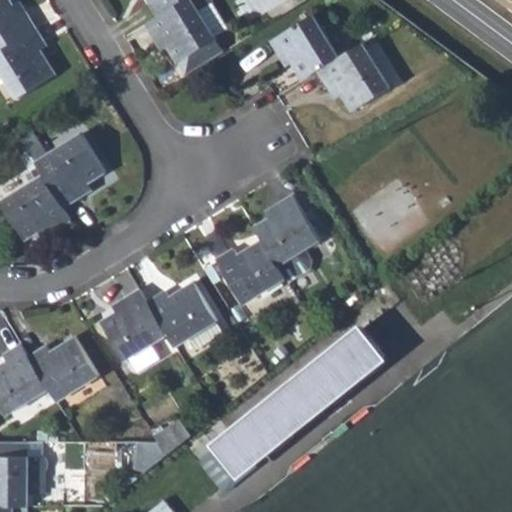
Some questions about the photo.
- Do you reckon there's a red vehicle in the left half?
Yes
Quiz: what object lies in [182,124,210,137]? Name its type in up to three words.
vehicle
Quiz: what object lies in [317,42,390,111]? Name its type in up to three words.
house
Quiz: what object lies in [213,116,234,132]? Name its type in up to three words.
car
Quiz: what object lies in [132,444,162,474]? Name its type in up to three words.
shed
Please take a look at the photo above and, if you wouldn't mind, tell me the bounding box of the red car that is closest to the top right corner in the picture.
[298,79,318,95]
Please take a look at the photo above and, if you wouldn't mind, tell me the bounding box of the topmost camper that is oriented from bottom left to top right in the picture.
[238,48,270,72]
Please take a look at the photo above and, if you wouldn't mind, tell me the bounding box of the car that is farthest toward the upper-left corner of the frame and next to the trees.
[84,46,100,68]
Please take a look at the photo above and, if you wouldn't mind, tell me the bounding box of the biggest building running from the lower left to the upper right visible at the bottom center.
[206,326,385,484]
